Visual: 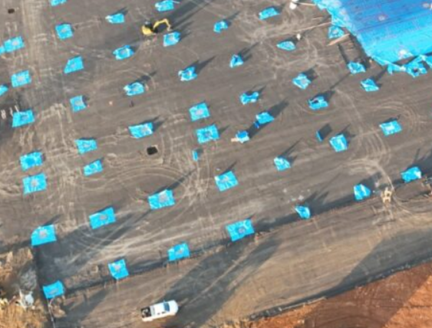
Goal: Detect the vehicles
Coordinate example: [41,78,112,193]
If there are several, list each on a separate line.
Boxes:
[139,13,172,37]
[141,302,178,321]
